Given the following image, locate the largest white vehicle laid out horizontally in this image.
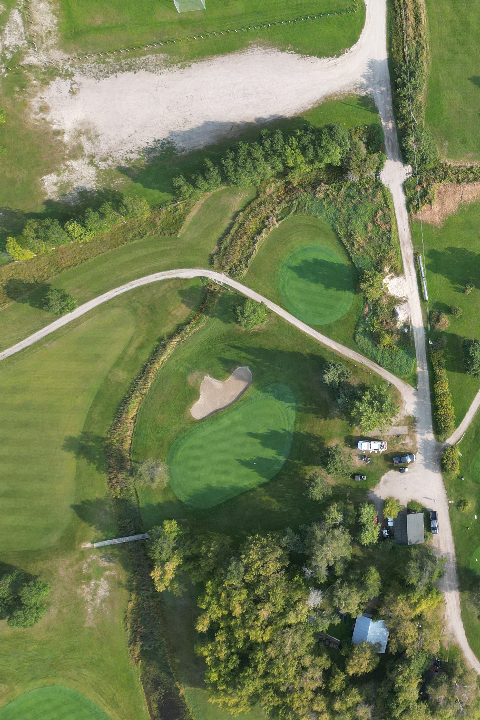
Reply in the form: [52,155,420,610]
[358,441,387,453]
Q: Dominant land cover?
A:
grass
